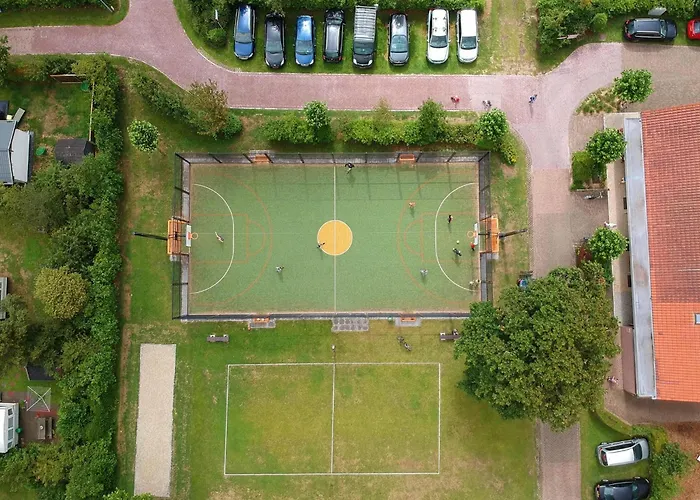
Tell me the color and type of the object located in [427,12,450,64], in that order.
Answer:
white car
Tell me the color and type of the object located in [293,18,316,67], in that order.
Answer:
blue car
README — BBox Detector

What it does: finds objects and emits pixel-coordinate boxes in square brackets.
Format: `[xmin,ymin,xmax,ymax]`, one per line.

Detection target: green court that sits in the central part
[181,155,489,321]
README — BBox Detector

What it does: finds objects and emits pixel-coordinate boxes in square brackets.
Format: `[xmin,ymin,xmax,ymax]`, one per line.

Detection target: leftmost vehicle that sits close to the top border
[232,8,256,60]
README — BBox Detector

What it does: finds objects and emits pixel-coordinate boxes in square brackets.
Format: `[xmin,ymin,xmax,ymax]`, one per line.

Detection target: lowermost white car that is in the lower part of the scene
[594,438,649,466]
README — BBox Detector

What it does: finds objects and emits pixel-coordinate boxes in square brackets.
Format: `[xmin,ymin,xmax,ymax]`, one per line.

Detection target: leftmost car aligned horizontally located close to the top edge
[621,17,677,41]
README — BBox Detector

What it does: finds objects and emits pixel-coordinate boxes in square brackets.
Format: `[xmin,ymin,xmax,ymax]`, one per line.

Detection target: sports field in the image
[224,363,440,475]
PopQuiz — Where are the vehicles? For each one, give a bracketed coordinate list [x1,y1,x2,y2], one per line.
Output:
[427,12,450,64]
[621,17,677,41]
[352,1,377,69]
[293,18,316,67]
[594,438,649,466]
[684,19,700,41]
[321,10,345,64]
[592,478,651,500]
[262,16,286,69]
[455,12,479,64]
[388,16,411,66]
[232,8,256,60]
